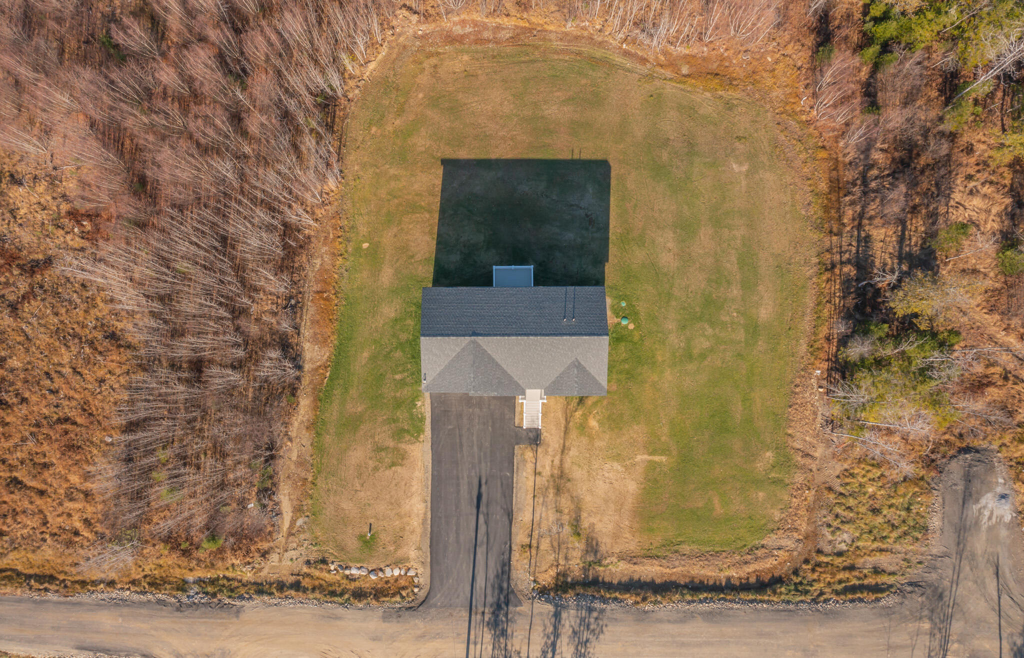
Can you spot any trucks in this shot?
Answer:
No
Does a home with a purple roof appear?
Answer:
No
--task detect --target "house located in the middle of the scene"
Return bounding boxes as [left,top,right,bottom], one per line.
[421,265,609,429]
